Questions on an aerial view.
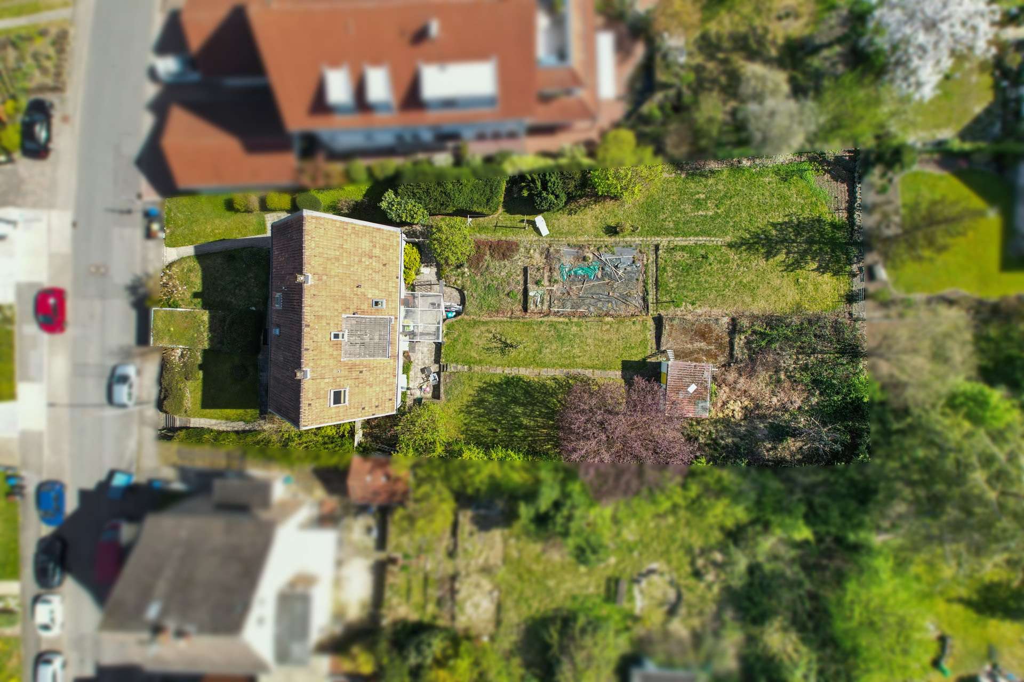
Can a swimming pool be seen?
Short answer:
No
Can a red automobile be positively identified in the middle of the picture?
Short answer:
No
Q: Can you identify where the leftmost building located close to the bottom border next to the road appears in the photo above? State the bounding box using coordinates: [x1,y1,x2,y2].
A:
[97,471,344,682]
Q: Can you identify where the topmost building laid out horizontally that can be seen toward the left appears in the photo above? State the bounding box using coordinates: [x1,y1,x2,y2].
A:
[159,0,597,193]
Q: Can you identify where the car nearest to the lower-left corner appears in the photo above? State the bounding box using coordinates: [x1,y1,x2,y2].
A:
[37,647,65,682]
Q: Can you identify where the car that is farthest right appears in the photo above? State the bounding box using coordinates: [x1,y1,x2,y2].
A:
[151,55,201,82]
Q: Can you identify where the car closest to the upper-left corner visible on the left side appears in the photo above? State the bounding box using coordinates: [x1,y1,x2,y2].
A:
[21,103,51,156]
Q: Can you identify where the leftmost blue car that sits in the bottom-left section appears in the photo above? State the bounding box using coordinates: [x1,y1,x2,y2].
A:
[36,480,66,528]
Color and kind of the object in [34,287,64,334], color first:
red car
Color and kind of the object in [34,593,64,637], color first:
white car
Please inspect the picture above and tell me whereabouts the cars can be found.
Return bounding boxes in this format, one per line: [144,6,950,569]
[151,55,201,82]
[36,480,66,528]
[34,593,64,637]
[21,103,51,156]
[34,287,64,334]
[35,535,66,589]
[96,527,126,580]
[109,362,138,407]
[37,647,65,682]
